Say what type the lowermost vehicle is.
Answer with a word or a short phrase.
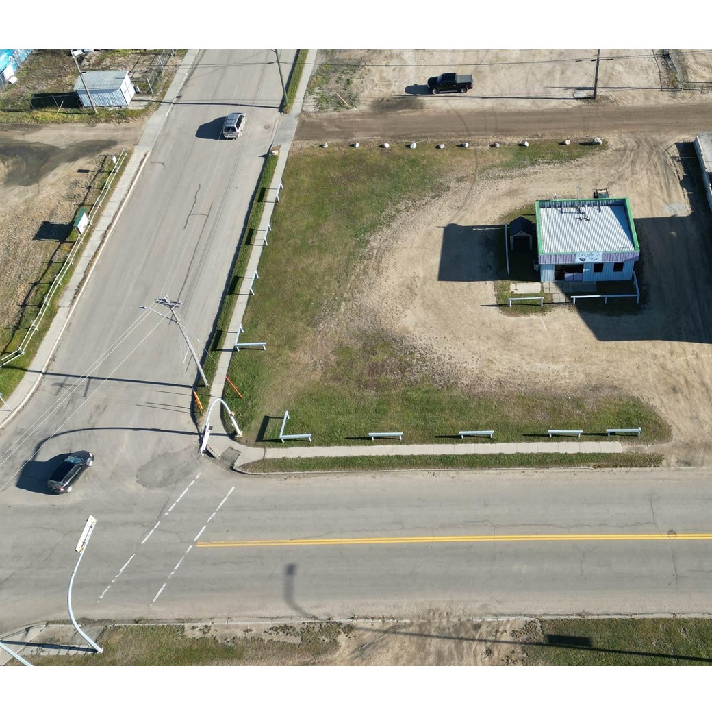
automobile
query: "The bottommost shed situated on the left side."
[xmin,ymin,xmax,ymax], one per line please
[75,71,136,107]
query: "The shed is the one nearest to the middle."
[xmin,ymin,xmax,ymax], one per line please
[509,213,533,248]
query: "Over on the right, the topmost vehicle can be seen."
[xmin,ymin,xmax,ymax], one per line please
[427,73,475,94]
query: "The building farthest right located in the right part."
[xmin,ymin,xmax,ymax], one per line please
[534,171,641,282]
